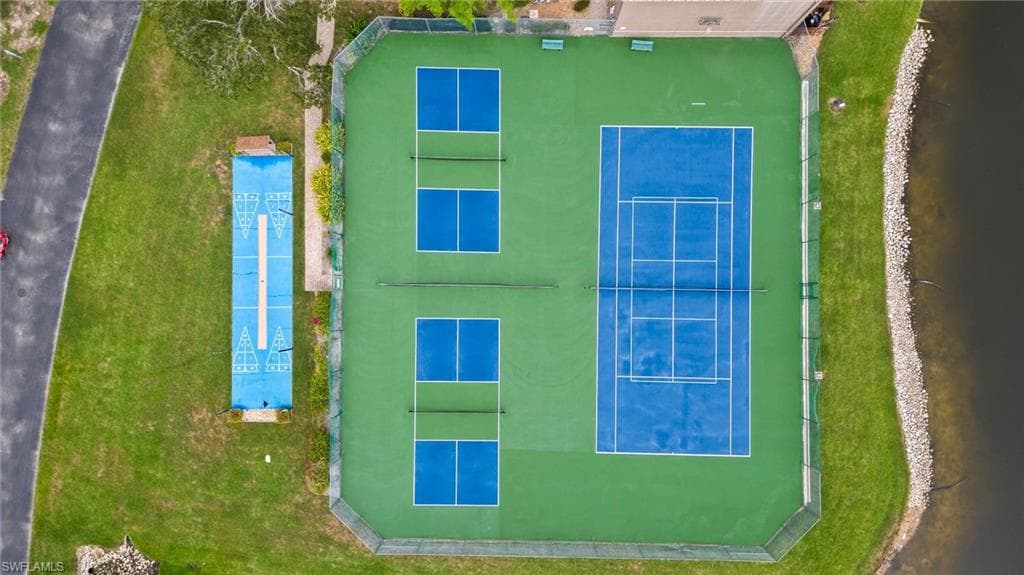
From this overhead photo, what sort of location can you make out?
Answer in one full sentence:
The area seen from above is a sports ground.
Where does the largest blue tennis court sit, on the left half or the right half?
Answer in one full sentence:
The largest blue tennis court is on the right side of the image.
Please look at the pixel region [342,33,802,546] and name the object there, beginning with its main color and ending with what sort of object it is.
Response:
green sports court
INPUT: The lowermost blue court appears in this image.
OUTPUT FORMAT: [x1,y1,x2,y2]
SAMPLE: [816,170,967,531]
[413,318,500,506]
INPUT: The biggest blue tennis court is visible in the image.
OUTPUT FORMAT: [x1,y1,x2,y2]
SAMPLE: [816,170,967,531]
[596,125,753,457]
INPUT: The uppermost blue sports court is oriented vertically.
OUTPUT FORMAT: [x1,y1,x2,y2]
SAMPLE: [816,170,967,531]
[416,67,501,253]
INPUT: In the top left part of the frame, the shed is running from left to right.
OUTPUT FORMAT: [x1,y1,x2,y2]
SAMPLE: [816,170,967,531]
[235,137,276,155]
